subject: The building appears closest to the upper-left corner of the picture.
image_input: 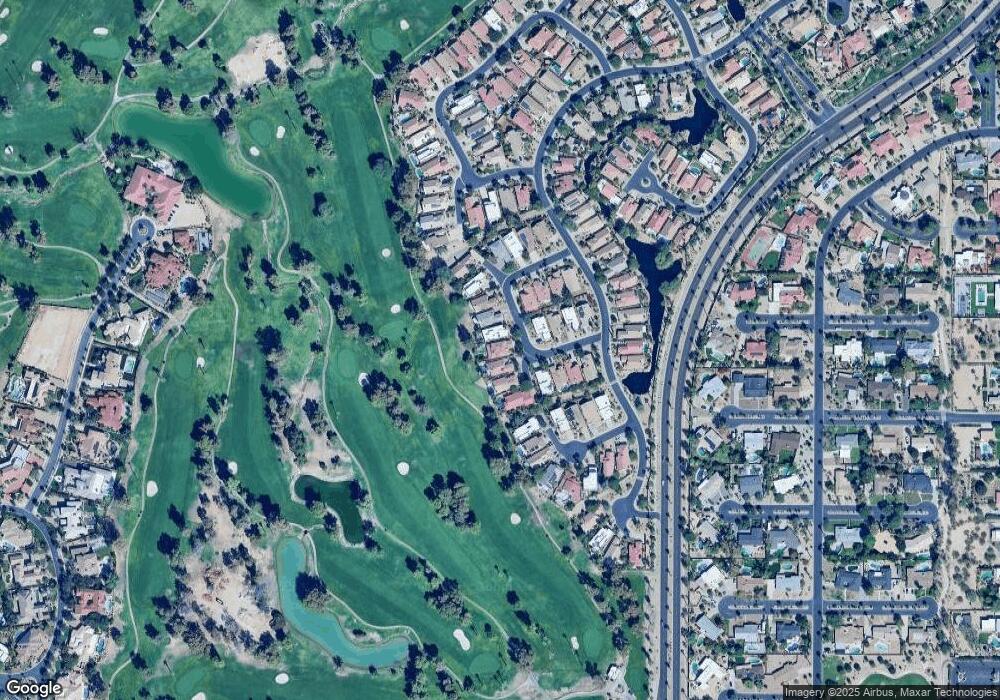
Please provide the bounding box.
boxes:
[123,166,181,226]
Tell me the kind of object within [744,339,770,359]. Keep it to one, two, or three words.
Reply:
house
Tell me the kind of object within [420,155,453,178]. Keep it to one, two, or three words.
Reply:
house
